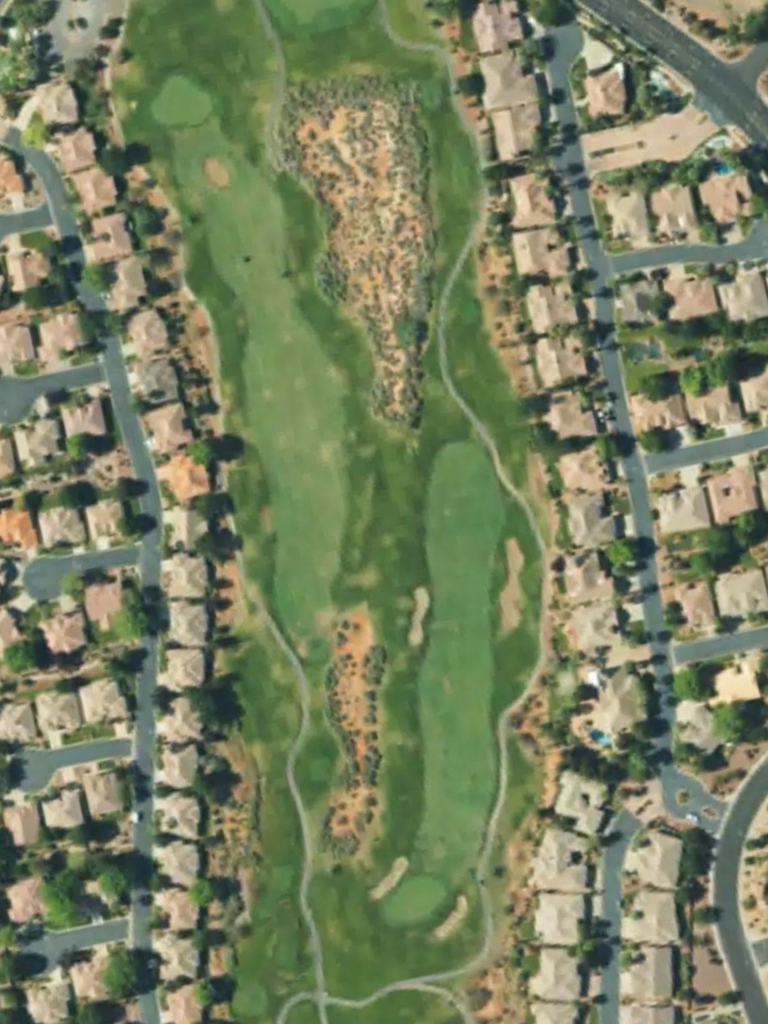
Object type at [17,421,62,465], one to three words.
house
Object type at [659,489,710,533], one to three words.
house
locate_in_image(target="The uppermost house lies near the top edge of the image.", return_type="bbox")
[473,0,521,53]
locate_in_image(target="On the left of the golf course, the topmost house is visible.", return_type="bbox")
[36,80,79,124]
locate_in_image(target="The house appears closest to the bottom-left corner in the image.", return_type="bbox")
[27,983,71,1024]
